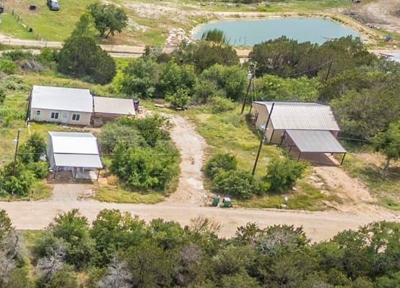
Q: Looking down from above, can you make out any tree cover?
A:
Yes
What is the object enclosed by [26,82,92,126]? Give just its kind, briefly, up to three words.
house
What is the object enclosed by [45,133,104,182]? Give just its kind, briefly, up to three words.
building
